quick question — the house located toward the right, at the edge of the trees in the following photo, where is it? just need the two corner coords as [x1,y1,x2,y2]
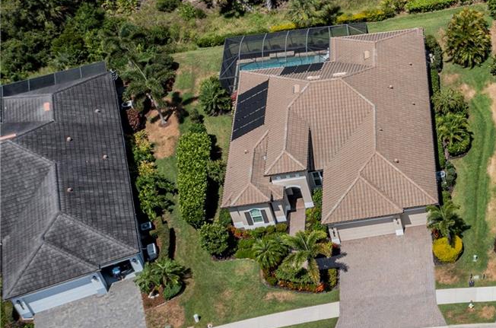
[221,25,440,242]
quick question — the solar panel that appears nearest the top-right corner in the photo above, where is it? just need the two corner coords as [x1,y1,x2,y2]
[280,63,324,76]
